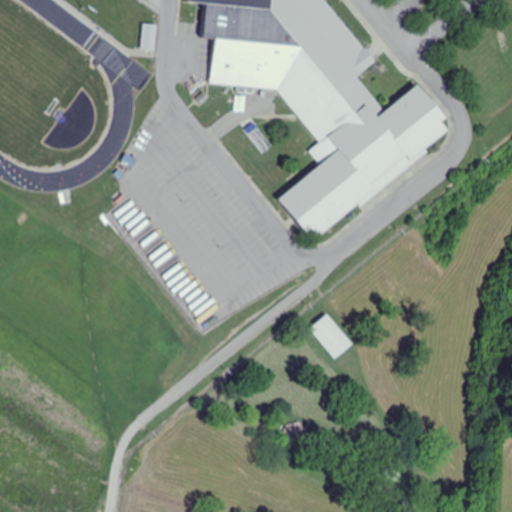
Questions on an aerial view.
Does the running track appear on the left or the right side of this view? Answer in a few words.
left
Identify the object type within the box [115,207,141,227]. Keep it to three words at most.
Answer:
bus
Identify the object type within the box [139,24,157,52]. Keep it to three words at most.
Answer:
shed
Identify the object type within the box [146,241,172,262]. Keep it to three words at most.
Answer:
bus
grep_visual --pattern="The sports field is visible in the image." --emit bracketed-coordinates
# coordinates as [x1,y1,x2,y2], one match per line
[0,0,108,168]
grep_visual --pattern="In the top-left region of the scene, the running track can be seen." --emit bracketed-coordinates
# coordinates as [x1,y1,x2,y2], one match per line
[0,0,151,192]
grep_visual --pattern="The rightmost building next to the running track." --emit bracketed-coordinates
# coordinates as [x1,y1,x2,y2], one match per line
[182,0,448,234]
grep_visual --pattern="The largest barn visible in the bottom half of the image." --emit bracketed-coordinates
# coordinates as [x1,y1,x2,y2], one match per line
[310,314,352,360]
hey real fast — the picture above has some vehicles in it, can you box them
[164,268,190,288]
[136,228,163,250]
[126,217,152,238]
[206,316,217,324]
[110,198,136,220]
[136,134,148,146]
[160,260,186,281]
[150,248,176,269]
[146,241,172,262]
[191,298,217,318]
[180,284,206,306]
[194,304,220,324]
[122,211,148,231]
[176,278,202,299]
[140,129,152,140]
[184,292,210,312]
[115,207,141,227]
[168,274,194,295]
[132,141,144,152]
